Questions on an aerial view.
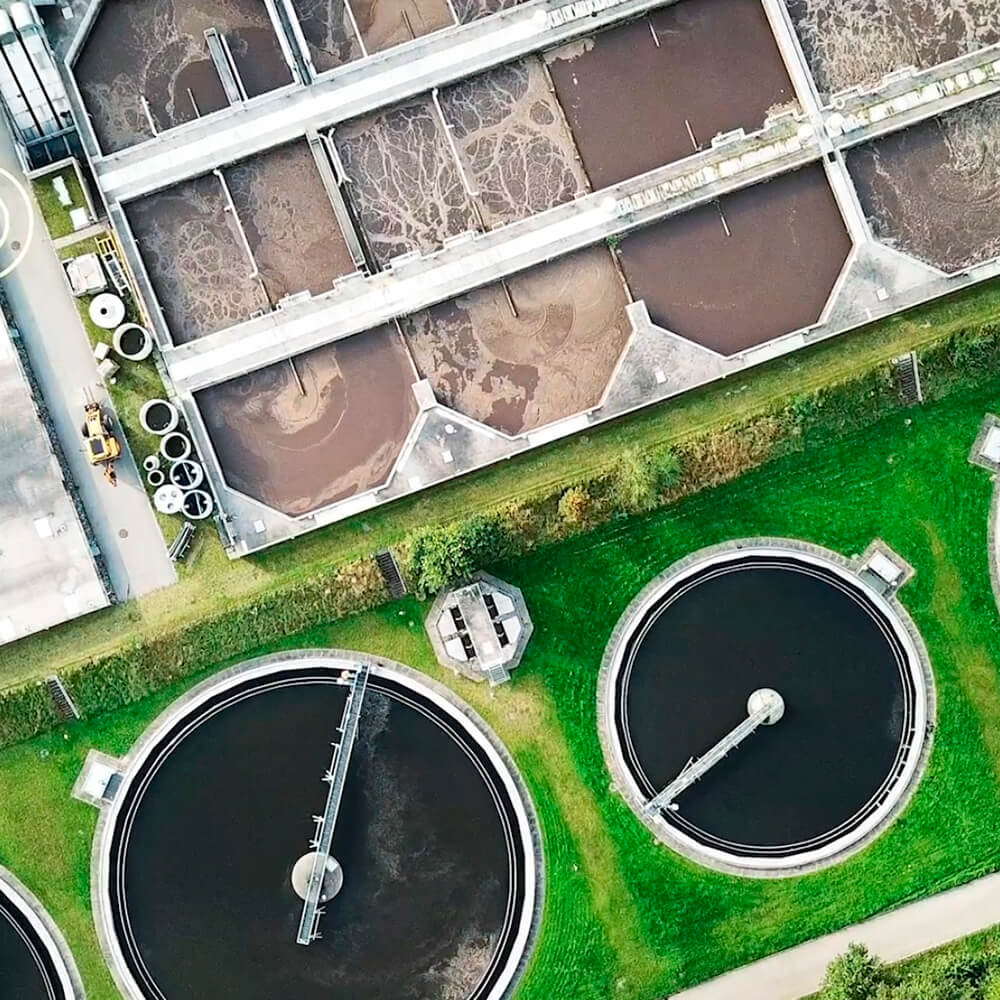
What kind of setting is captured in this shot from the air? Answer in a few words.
industrial area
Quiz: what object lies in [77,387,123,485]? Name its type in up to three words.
work vehicle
